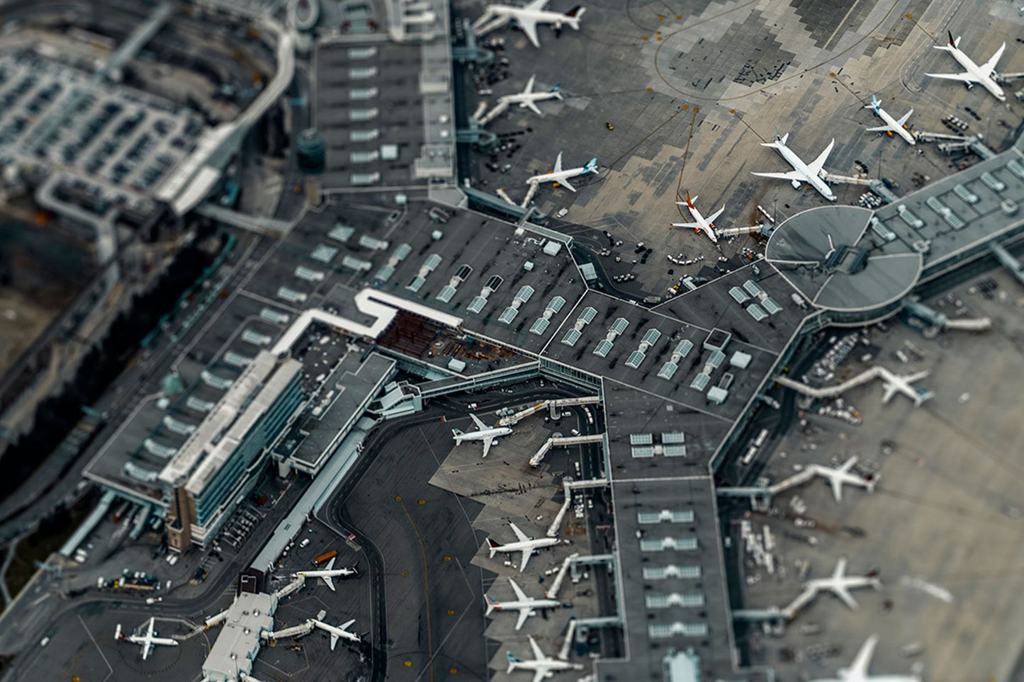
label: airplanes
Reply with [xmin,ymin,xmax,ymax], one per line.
[806,557,880,608]
[924,32,1007,102]
[490,521,558,569]
[307,619,365,649]
[865,97,916,145]
[121,619,177,658]
[672,194,724,243]
[879,366,932,407]
[293,557,355,590]
[528,152,596,191]
[790,635,912,682]
[455,414,511,456]
[750,129,834,201]
[816,455,878,500]
[501,75,559,113]
[488,578,558,628]
[492,0,581,44]
[505,636,577,682]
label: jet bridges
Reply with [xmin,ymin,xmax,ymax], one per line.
[987,93,1024,107]
[495,188,515,207]
[272,572,306,603]
[548,480,608,539]
[933,139,973,156]
[718,225,769,243]
[906,300,996,334]
[560,617,622,662]
[715,463,817,499]
[772,363,881,401]
[201,610,230,633]
[544,554,617,601]
[464,13,514,50]
[531,435,605,469]
[471,99,506,132]
[495,397,601,428]
[820,172,894,202]
[730,585,819,624]
[917,131,990,154]
[268,621,314,642]
[990,72,1024,86]
[470,7,494,38]
[519,180,539,224]
[470,100,488,124]
[992,243,1024,278]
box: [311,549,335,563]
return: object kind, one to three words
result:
vehicle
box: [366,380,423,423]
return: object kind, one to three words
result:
building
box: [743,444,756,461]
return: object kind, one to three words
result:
vehicle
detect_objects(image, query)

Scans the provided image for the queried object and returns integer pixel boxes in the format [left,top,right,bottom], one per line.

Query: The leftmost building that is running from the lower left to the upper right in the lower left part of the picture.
[60,495,117,564]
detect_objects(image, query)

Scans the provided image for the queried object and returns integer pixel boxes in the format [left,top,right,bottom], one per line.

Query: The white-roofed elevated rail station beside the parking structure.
[155,127,225,225]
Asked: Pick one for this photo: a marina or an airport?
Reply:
airport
